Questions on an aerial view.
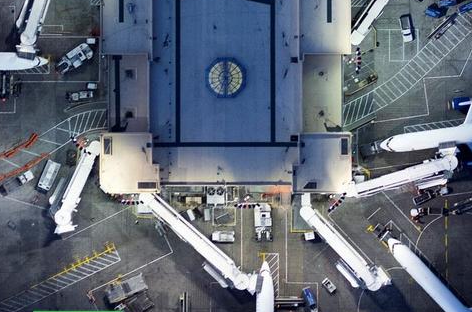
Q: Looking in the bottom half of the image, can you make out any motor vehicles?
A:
Yes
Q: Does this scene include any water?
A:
No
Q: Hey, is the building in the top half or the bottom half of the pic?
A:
top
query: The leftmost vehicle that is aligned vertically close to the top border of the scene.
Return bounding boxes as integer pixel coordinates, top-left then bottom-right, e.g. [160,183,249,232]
[401,14,413,41]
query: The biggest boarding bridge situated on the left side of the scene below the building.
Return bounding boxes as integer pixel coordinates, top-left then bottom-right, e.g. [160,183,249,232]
[77,192,263,311]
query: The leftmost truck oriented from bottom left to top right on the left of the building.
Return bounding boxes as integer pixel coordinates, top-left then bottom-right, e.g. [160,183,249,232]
[0,170,34,197]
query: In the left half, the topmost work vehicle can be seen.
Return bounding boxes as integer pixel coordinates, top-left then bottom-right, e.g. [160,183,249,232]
[55,38,94,74]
